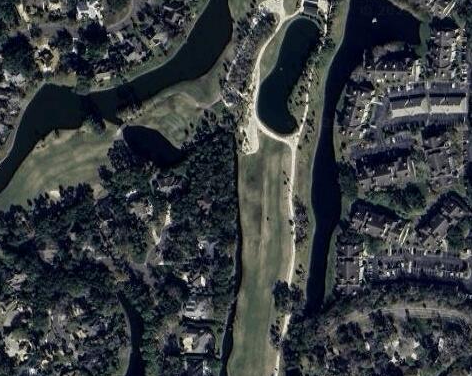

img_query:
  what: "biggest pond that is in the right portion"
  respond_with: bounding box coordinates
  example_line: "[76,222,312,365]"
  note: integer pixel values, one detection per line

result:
[258,19,318,134]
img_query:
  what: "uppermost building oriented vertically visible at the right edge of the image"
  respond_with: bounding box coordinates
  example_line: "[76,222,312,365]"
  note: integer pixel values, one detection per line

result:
[429,28,455,82]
